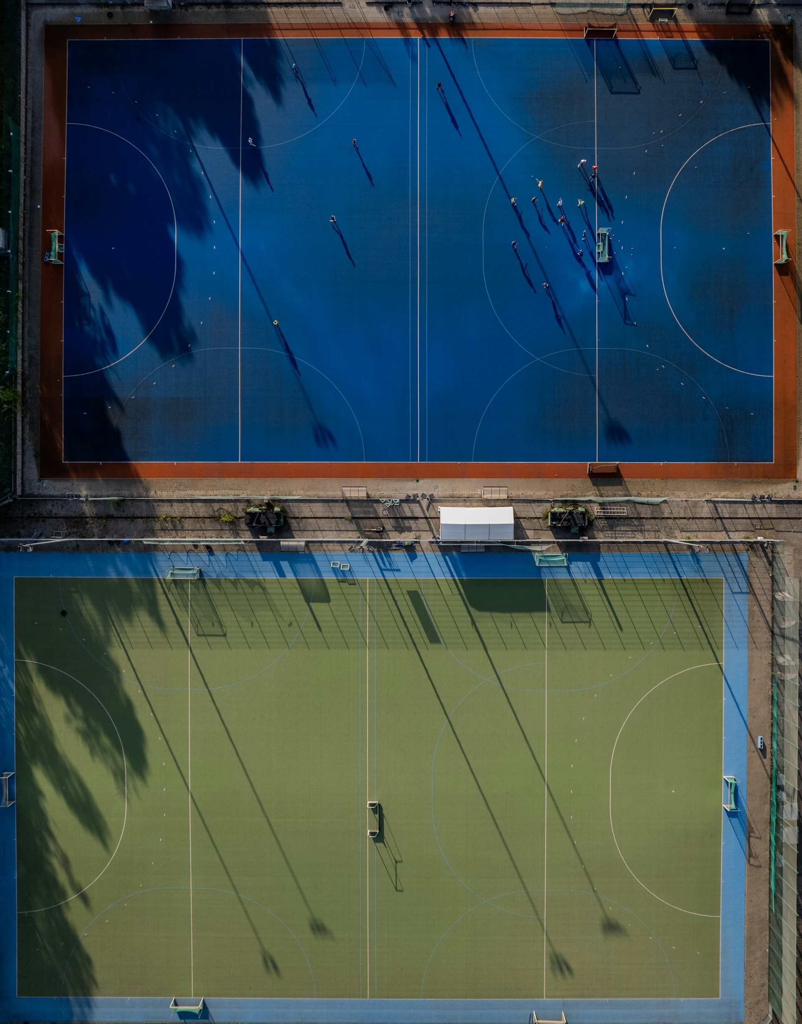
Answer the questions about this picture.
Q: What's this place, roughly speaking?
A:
sports ground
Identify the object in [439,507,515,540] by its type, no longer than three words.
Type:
tent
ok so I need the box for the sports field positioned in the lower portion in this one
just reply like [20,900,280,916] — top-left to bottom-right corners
[13,575,726,1002]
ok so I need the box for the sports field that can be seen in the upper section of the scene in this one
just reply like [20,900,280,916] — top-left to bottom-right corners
[61,37,776,465]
